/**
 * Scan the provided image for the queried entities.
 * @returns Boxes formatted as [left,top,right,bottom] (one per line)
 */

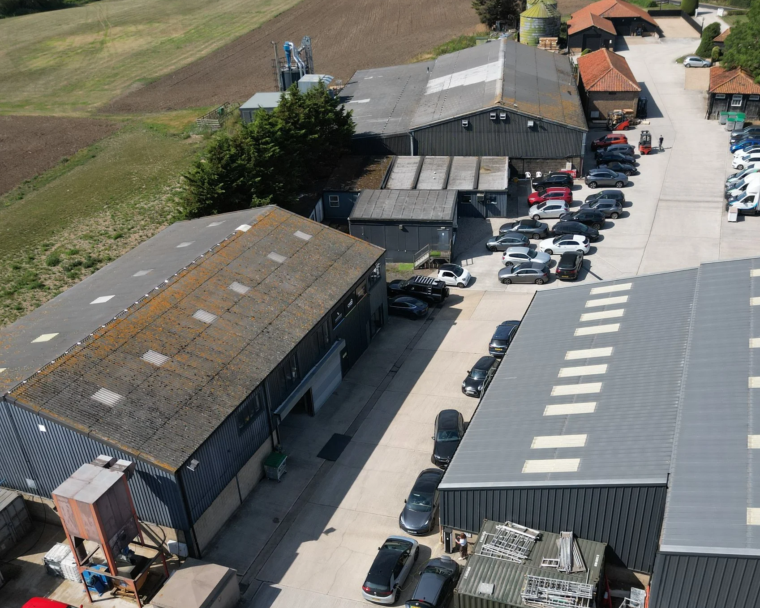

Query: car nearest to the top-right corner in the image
[682,56,712,68]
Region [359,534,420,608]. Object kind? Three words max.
car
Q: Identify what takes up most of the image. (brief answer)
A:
buildings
